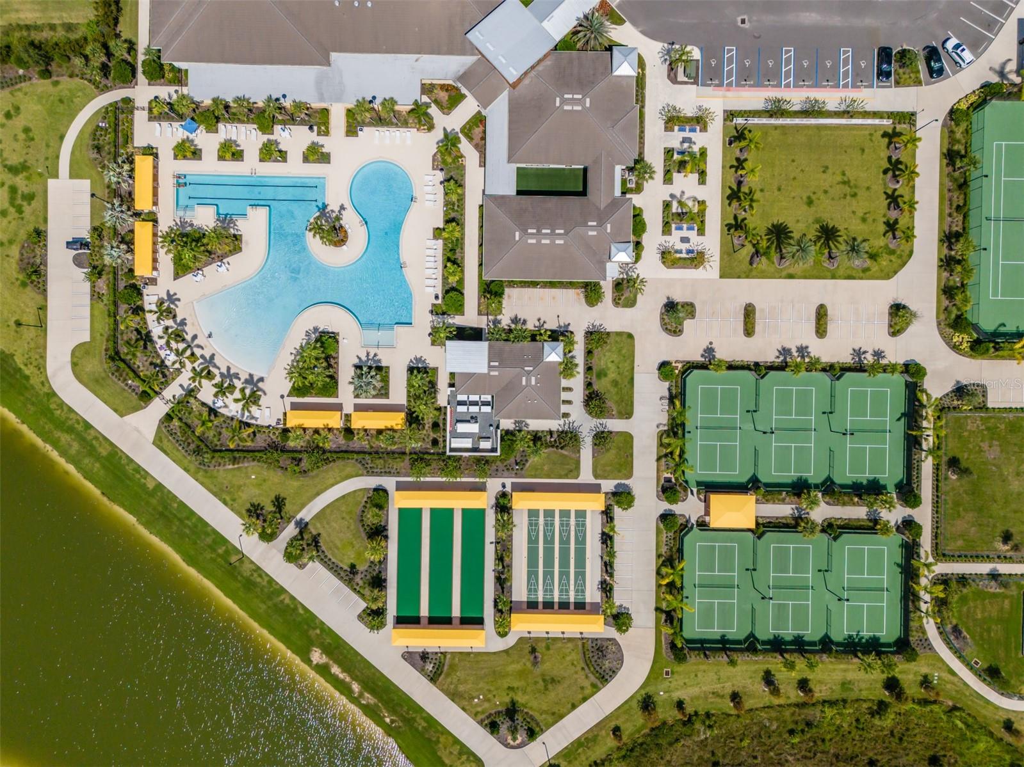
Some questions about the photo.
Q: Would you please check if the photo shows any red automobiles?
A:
No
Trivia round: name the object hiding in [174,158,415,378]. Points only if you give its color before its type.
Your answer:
blue swimming pool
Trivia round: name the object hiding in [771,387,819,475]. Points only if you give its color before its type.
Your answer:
green sports court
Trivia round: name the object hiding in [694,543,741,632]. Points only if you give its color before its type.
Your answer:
green sports court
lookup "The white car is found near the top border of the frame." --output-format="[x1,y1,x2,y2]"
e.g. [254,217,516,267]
[946,38,974,69]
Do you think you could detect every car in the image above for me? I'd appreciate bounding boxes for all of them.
[879,45,897,80]
[925,44,947,77]
[946,38,974,69]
